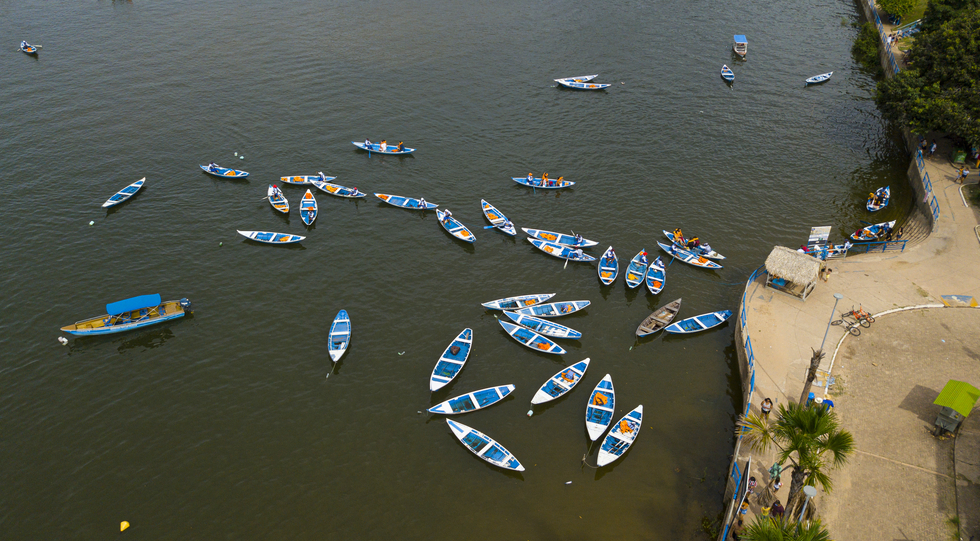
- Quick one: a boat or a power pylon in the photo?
boat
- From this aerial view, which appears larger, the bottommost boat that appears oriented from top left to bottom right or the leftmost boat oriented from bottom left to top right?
the bottommost boat that appears oriented from top left to bottom right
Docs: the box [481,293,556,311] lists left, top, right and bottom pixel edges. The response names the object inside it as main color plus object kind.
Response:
white boat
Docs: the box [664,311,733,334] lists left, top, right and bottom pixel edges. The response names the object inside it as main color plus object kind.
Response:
blue boat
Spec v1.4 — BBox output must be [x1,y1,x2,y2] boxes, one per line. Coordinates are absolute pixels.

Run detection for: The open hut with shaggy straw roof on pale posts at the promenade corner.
[765,242,826,300]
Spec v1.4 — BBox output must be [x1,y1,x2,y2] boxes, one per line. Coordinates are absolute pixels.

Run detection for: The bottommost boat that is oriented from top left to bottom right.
[447,418,524,473]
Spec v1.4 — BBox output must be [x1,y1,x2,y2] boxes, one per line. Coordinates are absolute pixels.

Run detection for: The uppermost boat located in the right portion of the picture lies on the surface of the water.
[732,28,748,61]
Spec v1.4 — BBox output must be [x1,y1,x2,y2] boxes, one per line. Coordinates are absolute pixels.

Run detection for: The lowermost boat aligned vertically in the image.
[586,373,615,443]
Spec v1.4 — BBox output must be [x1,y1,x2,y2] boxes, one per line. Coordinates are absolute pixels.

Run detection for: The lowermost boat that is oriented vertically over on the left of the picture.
[328,309,351,365]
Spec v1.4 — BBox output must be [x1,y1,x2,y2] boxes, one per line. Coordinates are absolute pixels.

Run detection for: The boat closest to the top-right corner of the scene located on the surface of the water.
[806,72,834,86]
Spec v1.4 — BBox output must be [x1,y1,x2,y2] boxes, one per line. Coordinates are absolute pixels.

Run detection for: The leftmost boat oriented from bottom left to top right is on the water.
[101,177,145,211]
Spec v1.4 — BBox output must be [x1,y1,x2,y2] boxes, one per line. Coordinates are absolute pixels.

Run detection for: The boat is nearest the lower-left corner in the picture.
[59,291,196,334]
